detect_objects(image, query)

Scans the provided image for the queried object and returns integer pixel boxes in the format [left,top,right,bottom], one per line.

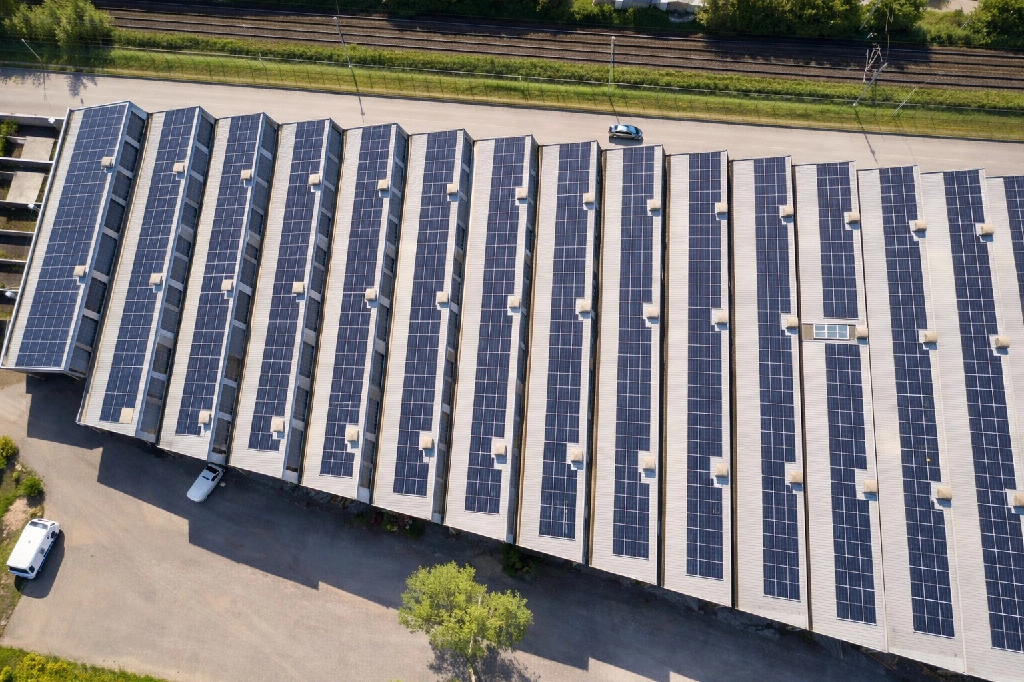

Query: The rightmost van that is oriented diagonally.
[187,468,226,509]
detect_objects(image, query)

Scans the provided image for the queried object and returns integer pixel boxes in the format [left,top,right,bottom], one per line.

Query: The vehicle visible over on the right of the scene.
[606,122,644,142]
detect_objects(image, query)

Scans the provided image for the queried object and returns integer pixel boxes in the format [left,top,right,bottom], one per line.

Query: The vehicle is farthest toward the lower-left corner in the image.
[8,523,57,583]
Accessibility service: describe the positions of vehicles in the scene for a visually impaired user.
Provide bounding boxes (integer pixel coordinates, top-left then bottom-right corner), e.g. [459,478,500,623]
[606,122,644,142]
[8,523,57,583]
[187,468,226,509]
